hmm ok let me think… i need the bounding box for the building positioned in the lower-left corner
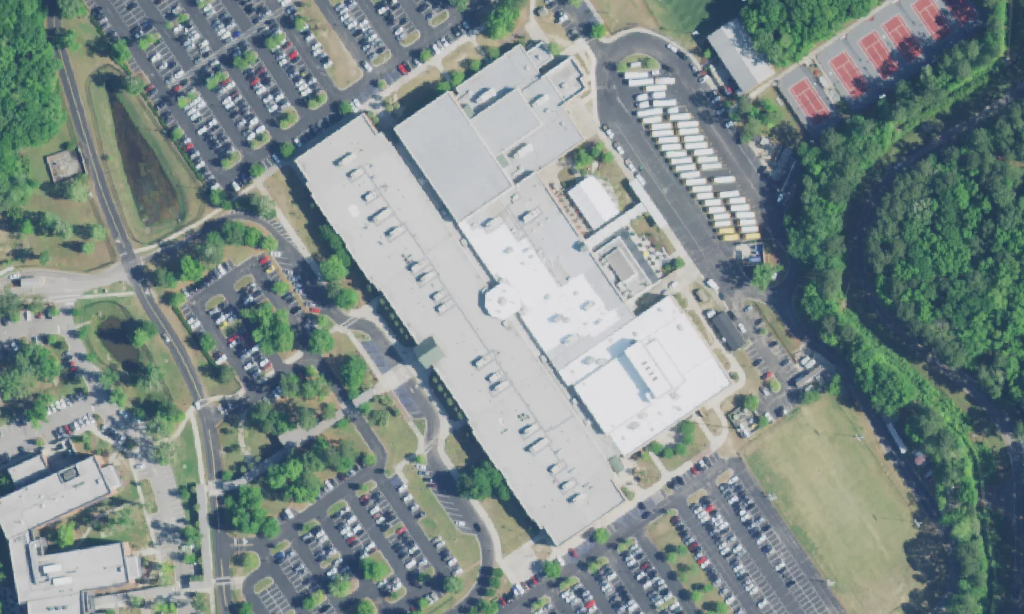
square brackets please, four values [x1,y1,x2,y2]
[0,451,141,614]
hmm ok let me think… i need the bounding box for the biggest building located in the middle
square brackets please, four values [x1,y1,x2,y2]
[296,42,730,546]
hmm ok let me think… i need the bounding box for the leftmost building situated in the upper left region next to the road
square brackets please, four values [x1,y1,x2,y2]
[46,150,85,182]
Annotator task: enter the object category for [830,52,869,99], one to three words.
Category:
tennis court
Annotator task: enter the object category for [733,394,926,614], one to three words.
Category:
sports field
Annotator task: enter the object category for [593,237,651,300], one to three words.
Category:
building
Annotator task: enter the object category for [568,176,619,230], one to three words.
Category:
building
